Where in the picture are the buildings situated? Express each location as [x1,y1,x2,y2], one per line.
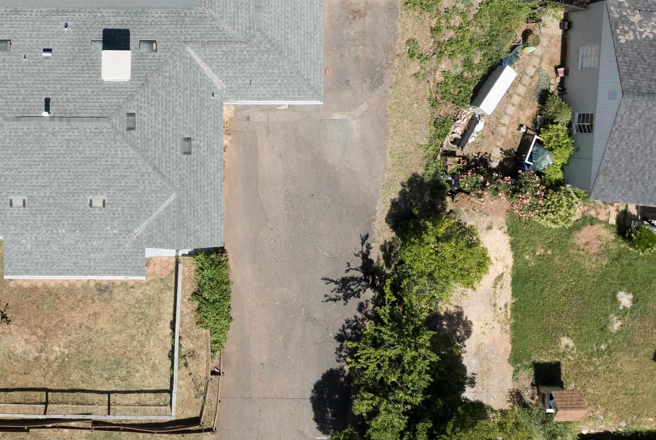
[518,380,588,422]
[0,0,325,282]
[563,0,656,239]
